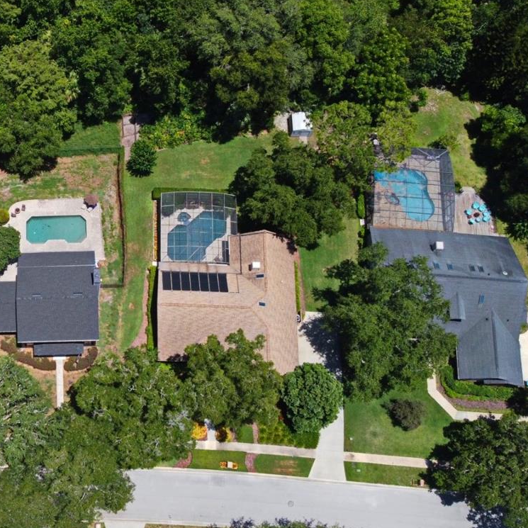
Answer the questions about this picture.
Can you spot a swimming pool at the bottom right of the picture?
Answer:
No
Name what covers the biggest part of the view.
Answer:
trees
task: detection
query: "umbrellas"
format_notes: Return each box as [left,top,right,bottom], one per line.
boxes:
[84,194,99,207]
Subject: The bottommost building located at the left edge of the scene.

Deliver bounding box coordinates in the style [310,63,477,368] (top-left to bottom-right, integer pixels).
[0,251,100,359]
